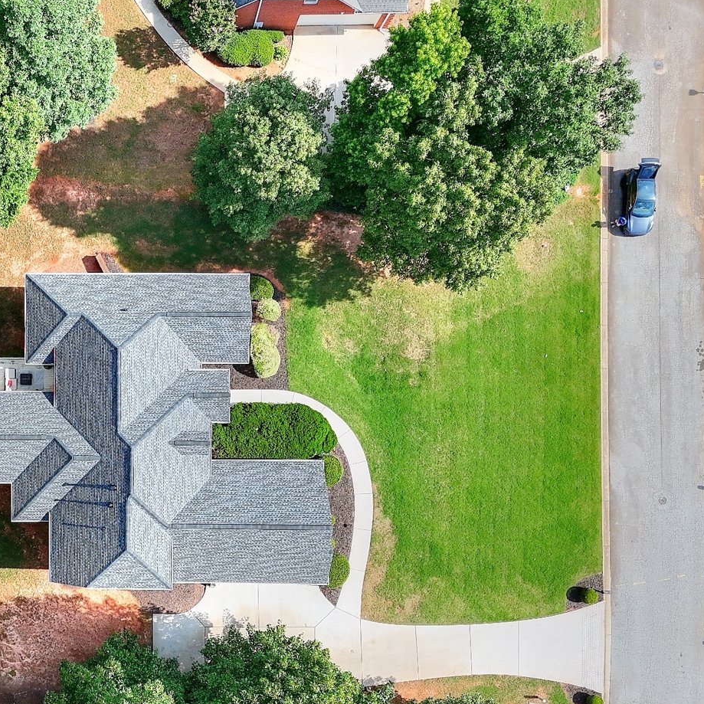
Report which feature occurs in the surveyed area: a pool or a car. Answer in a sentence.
I can see a car in this picture.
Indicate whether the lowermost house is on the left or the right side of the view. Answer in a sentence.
You can find the lowermost house on the left side of the picture.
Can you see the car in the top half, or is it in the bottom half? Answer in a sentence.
The top half of the photo is where the car is.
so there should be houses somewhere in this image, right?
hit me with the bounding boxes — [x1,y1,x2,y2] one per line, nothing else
[0,272,334,590]
[230,0,411,31]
